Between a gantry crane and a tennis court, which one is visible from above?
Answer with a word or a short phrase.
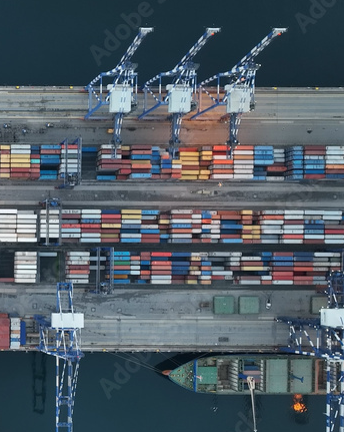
gantry crane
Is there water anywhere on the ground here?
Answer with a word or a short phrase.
Yes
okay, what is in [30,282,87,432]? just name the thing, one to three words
container crane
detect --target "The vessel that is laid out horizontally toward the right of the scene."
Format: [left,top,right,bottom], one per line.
[112,350,342,432]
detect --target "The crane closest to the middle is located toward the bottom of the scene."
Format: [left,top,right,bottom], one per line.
[87,247,117,292]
